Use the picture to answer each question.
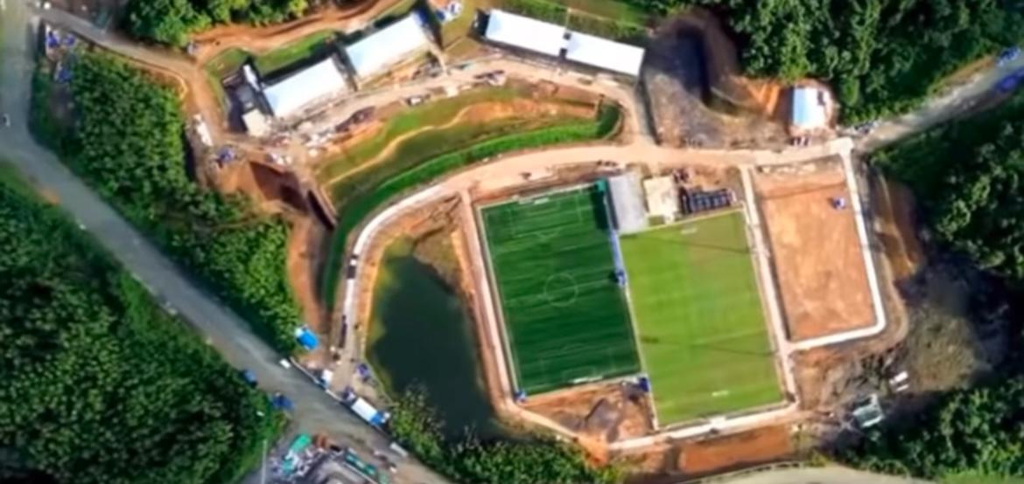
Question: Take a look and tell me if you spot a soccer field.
Yes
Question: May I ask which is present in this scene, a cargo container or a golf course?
cargo container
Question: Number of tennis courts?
0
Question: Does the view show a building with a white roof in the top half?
Yes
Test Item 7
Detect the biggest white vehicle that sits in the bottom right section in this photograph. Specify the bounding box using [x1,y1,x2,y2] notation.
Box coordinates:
[886,371,908,386]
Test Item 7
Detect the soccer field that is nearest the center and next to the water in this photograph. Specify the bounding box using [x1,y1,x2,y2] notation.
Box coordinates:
[481,184,641,400]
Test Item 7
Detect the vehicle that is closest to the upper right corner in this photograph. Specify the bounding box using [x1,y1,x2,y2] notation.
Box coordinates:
[1001,47,1022,63]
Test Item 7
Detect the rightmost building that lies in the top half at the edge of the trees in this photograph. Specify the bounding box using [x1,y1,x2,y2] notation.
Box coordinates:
[793,85,827,125]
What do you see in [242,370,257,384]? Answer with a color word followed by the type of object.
blue vehicle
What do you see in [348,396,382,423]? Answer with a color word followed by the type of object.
white truck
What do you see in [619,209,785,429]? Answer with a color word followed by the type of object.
green soccer field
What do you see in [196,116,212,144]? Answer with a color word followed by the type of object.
white vehicle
